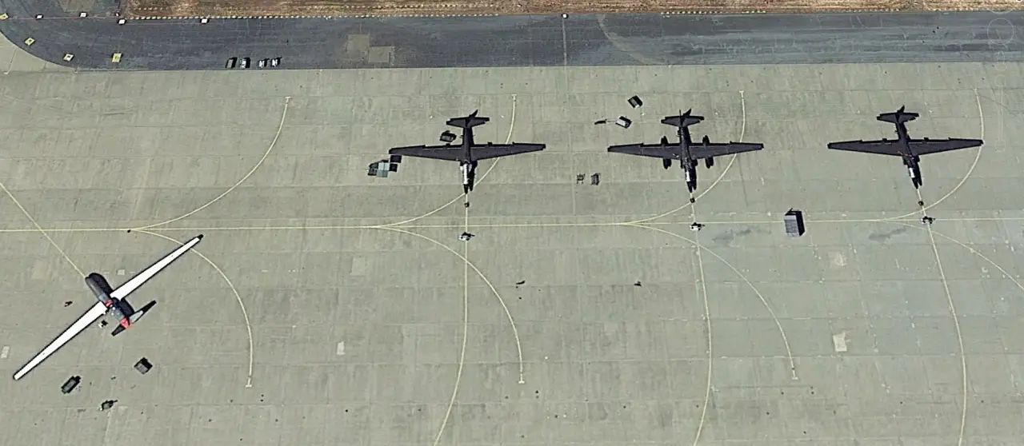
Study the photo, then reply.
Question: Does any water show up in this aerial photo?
No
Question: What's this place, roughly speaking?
airport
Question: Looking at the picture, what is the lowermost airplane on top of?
apron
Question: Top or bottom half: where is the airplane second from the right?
top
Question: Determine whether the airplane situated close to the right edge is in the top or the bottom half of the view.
top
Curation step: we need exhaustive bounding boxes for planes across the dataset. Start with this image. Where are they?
[390,116,544,194]
[828,110,981,190]
[13,238,200,379]
[608,112,761,193]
